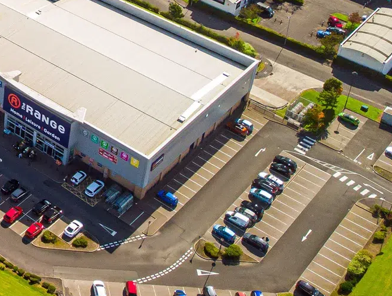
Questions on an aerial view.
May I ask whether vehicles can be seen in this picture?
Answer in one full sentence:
Yes, there's a vehicle here.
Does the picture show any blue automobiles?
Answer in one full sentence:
Yes, looking at the shot, I can spot a blue automobile.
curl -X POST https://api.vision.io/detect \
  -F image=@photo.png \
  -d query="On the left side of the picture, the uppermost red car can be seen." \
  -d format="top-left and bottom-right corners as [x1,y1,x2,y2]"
[2,204,25,225]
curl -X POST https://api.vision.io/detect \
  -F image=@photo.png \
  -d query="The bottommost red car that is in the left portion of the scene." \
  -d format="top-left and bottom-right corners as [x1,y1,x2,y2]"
[123,280,138,296]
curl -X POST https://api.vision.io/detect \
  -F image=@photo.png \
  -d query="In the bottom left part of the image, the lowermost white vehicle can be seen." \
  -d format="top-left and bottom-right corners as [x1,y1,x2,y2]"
[92,279,107,296]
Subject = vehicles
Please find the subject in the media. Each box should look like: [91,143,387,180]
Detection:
[269,161,293,177]
[84,179,105,198]
[0,177,22,196]
[247,189,275,207]
[252,178,279,197]
[239,198,266,217]
[294,281,322,296]
[63,219,85,239]
[327,16,343,26]
[337,113,360,127]
[156,190,181,208]
[234,115,258,131]
[9,188,29,203]
[25,223,44,240]
[2,204,25,225]
[327,21,344,30]
[92,279,107,296]
[235,205,262,225]
[203,286,218,296]
[68,170,89,187]
[316,28,326,38]
[241,234,271,256]
[256,172,284,189]
[273,156,300,172]
[212,227,238,244]
[123,280,138,296]
[227,123,248,136]
[225,207,253,230]
[42,204,65,225]
[173,291,187,296]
